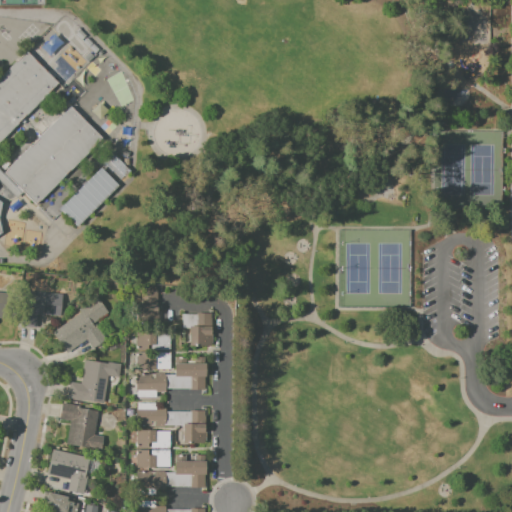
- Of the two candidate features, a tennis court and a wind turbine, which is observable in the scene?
tennis court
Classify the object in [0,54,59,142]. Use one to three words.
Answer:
building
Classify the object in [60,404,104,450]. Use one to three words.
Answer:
house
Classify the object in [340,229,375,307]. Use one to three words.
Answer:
tennis court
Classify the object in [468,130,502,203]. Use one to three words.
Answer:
tennis court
